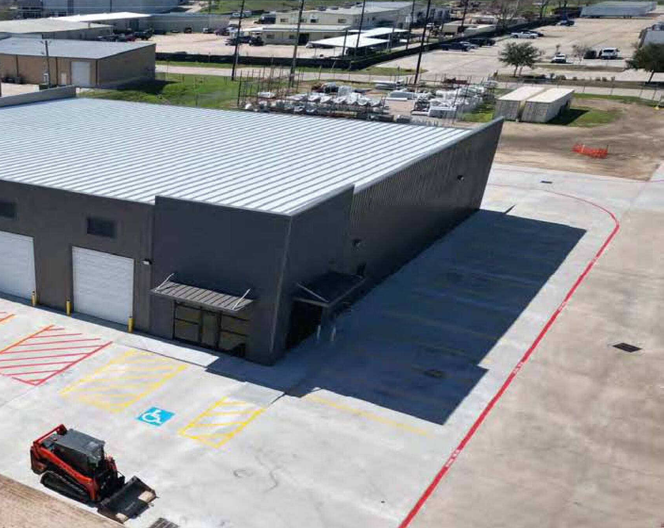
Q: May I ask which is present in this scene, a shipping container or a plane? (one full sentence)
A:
I can see a shipping container in this picture.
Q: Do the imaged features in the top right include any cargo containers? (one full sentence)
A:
Yes, a cargo container appears in the top right.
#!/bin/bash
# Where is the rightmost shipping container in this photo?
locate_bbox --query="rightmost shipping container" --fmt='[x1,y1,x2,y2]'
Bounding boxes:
[515,90,576,129]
